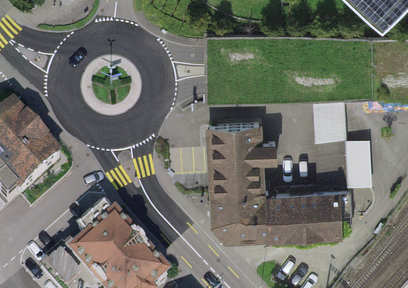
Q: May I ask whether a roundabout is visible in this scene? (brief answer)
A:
Yes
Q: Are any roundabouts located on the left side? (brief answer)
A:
Yes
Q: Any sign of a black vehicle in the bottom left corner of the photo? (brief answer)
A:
Yes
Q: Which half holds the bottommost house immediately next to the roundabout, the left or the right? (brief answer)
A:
left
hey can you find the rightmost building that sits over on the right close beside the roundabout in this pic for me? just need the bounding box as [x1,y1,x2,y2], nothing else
[208,119,353,246]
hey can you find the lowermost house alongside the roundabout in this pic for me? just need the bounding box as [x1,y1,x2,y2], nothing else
[67,196,172,288]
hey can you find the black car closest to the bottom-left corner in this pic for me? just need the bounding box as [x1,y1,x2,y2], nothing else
[25,256,44,279]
